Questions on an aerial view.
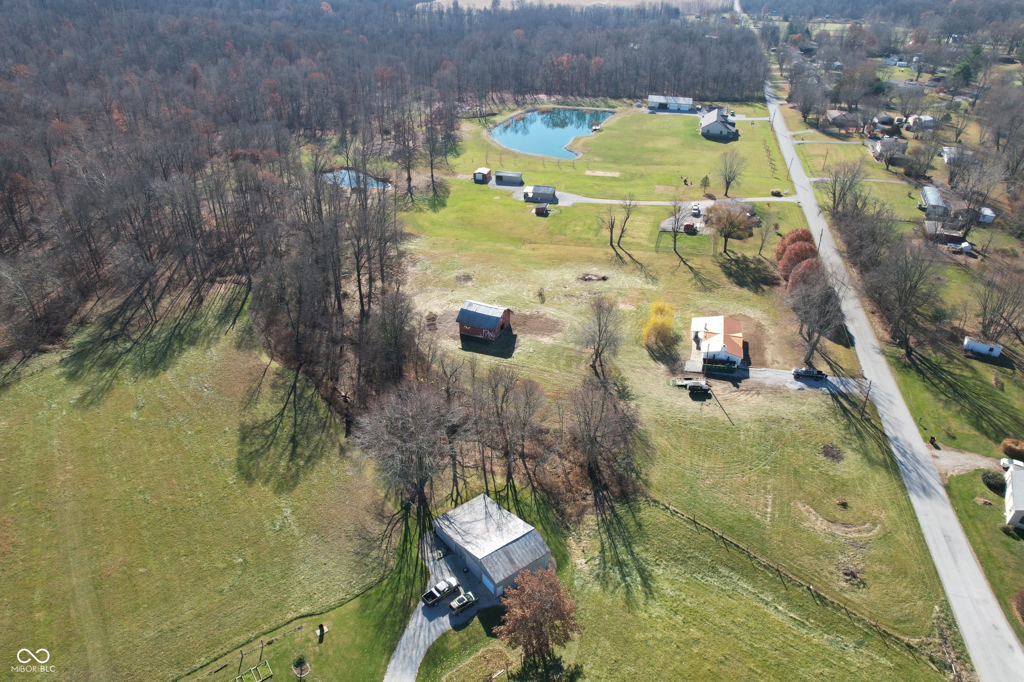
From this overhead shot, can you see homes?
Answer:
Yes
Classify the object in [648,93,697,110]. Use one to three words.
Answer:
building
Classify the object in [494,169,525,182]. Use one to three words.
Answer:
shed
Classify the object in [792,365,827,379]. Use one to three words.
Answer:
vehicle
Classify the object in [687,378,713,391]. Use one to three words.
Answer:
vehicle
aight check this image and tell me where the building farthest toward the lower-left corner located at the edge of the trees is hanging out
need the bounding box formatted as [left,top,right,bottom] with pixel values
[436,490,555,599]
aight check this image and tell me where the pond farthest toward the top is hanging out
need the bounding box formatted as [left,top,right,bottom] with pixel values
[491,109,615,159]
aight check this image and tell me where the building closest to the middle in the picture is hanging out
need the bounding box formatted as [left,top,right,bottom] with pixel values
[455,300,512,341]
